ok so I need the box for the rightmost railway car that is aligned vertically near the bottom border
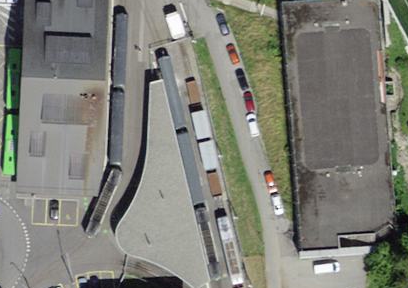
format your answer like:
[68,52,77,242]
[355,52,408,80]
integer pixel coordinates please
[216,217,244,286]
